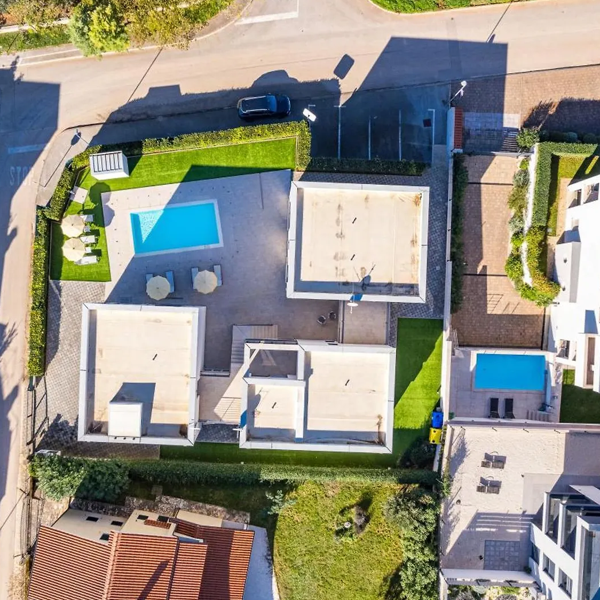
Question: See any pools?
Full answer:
Yes, the picture does show a pool.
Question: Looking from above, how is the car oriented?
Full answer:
Seen from above, the car lies from side to side.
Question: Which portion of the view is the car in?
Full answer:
The car is in the top part of the image.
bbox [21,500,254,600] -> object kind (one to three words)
house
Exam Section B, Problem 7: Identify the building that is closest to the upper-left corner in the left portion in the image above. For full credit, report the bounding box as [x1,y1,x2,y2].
[89,151,129,178]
